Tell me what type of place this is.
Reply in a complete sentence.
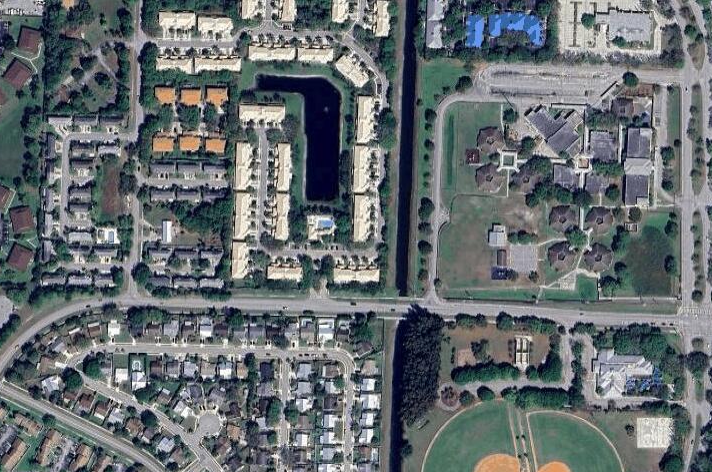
The picture captures a residential area.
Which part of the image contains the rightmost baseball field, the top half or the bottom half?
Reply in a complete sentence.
The rightmost baseball field is in the bottom half of the image.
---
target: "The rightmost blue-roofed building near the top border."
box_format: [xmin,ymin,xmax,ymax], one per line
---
[487,12,546,45]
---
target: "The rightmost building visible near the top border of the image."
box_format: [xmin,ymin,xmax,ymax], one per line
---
[597,11,650,44]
